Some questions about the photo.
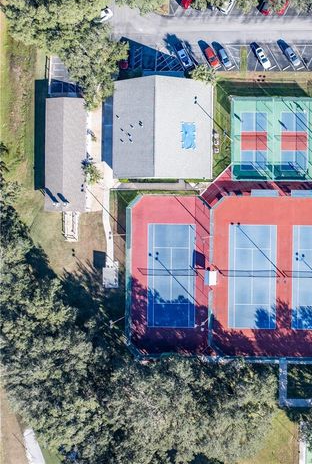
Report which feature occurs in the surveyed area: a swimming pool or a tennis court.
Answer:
tennis court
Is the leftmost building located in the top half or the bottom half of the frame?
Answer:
top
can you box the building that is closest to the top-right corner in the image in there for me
[111,76,214,179]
